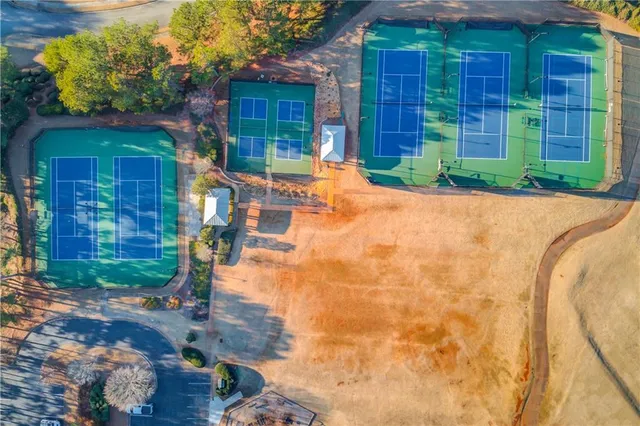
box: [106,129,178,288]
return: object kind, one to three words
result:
tennis court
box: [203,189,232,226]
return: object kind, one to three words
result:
building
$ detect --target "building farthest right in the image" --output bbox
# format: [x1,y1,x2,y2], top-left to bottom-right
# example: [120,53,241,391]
[319,124,346,164]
